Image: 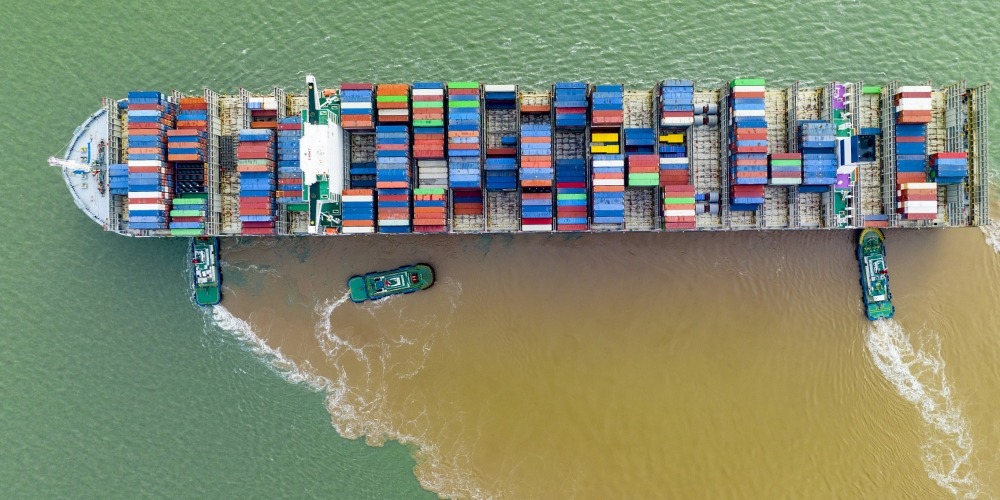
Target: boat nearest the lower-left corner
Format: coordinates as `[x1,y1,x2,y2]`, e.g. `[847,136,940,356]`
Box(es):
[184,236,222,306]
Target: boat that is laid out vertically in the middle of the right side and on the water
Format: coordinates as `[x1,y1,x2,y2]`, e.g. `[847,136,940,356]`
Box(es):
[859,230,900,320]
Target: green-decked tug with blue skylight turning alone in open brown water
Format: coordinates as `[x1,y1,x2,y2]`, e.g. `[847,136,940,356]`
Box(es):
[347,263,436,304]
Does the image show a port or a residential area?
port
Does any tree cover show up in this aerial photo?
No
